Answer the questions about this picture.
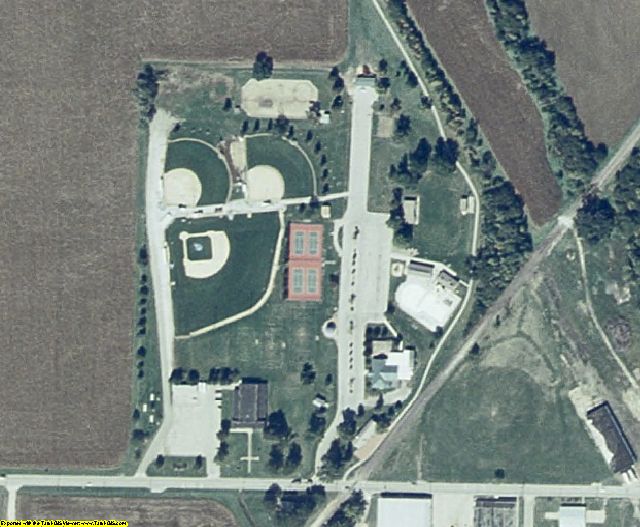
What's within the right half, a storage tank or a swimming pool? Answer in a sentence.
What appears within the right half is a swimming pool.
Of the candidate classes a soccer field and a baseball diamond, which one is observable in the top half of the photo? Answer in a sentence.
There is a baseball diamond in the top half of the photo.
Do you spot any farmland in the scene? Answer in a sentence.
Yes, the picture does contain farmland.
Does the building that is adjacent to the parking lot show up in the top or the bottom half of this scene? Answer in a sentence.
It is in the bottom half that the building that is adjacent to the parking lot appears.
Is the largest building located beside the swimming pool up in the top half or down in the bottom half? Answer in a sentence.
It is in the bottom half that the largest building located beside the swimming pool appears.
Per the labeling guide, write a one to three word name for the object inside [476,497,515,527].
building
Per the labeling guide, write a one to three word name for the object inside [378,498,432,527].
building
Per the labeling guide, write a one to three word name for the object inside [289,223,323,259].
tennis court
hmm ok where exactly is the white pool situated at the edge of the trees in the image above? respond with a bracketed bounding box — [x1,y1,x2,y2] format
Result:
[395,263,461,331]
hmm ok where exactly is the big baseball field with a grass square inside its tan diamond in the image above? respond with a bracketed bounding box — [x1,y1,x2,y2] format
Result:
[168,206,285,338]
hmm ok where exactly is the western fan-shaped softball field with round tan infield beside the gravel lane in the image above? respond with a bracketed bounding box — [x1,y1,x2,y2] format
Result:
[163,138,233,206]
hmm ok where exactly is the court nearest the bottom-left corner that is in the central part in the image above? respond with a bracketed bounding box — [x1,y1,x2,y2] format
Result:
[288,260,322,300]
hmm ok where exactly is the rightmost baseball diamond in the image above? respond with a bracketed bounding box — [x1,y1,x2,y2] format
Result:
[231,133,317,202]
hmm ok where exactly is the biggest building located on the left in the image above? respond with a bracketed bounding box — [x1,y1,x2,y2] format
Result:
[232,383,268,428]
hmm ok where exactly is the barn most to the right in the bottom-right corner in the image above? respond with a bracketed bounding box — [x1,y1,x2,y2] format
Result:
[586,403,637,473]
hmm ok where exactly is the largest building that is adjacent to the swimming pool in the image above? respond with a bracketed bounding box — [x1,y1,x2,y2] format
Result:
[372,341,414,390]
